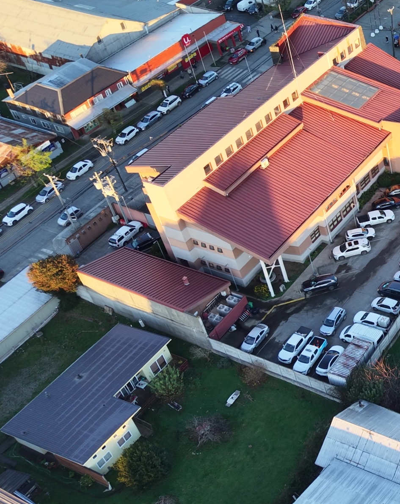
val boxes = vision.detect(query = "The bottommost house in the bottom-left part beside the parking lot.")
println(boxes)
[0,314,192,478]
